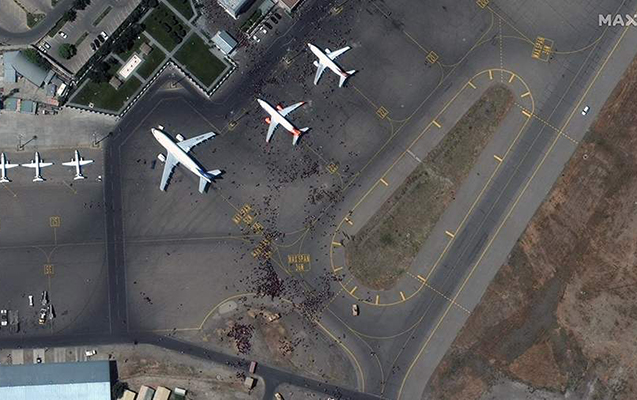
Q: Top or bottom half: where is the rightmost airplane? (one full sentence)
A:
The rightmost airplane is in the top half of the image.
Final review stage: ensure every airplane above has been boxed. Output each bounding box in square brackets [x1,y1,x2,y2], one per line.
[21,152,52,180]
[151,128,222,192]
[0,154,19,182]
[258,100,309,143]
[307,44,358,86]
[62,151,93,179]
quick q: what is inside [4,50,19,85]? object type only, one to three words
shed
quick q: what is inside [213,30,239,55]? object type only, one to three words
building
